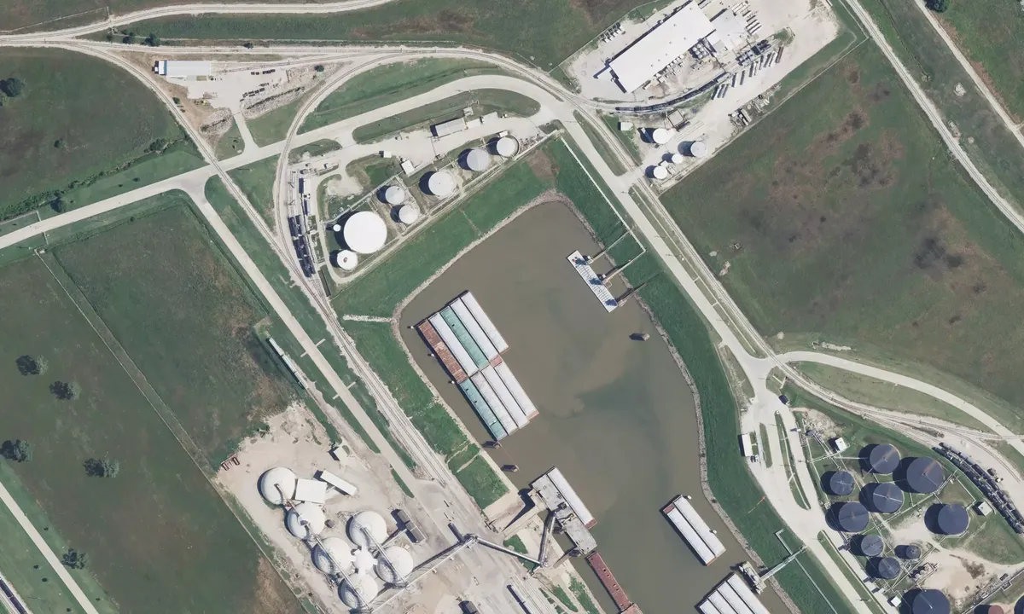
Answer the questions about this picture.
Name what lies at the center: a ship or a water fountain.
ship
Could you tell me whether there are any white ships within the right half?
Yes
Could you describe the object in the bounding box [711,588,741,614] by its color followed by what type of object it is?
white ship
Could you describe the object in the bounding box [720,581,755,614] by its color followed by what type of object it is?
white ship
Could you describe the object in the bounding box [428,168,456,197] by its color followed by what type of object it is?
white storage tank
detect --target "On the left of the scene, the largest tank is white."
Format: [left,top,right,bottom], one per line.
[343,209,387,254]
